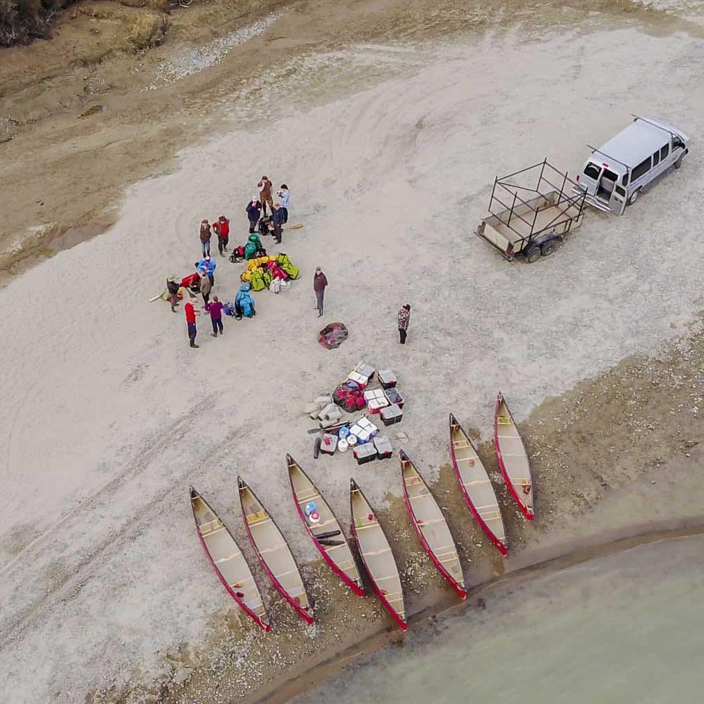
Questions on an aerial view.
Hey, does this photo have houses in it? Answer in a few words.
No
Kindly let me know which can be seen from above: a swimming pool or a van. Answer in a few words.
van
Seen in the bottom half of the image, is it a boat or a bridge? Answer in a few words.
boat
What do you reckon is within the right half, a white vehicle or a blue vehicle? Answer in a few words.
white vehicle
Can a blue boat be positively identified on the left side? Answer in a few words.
No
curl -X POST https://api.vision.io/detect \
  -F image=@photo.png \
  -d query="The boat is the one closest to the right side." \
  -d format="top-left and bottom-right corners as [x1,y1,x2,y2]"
[495,393,537,526]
